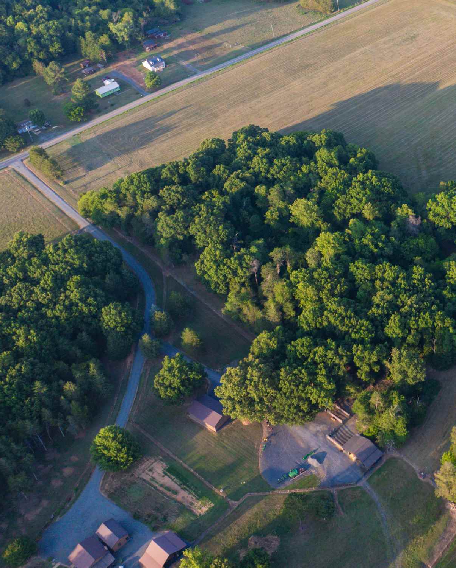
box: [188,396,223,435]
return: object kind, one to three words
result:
building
